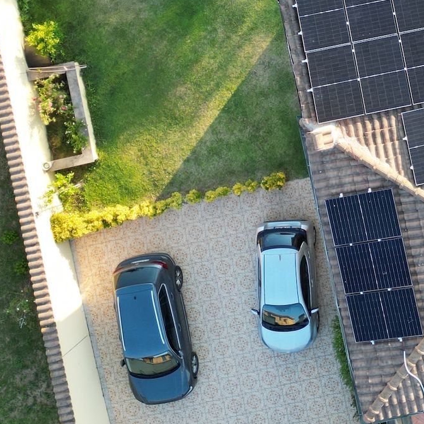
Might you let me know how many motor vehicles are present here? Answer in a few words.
2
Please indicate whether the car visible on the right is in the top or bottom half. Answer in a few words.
bottom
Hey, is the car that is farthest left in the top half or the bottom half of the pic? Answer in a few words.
bottom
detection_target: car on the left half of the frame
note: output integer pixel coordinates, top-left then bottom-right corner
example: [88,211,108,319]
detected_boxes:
[107,246,200,409]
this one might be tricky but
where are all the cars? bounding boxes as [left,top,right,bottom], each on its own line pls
[249,217,320,355]
[107,246,200,409]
